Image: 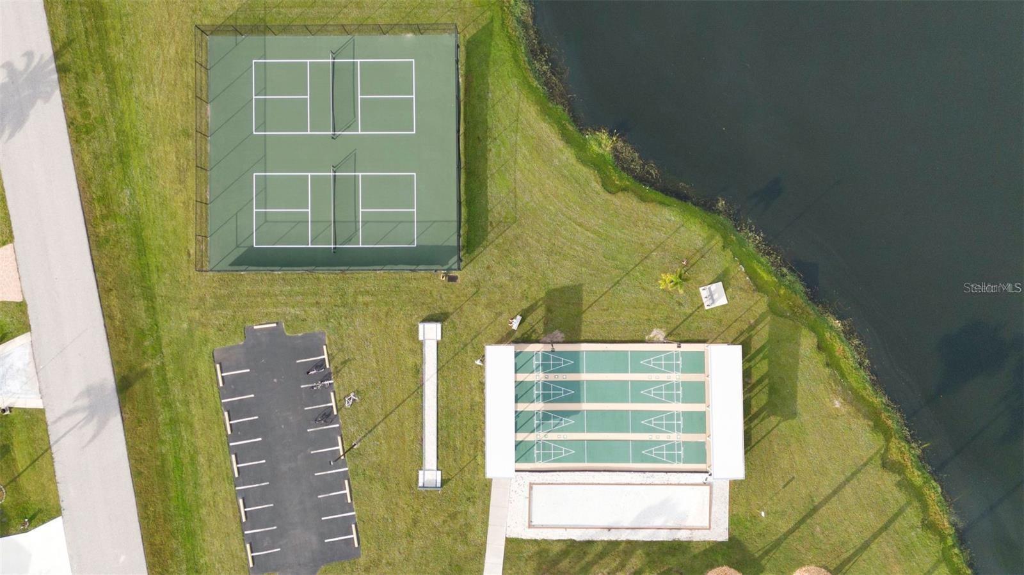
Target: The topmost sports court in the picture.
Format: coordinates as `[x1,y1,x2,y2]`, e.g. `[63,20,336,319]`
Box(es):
[209,34,459,153]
